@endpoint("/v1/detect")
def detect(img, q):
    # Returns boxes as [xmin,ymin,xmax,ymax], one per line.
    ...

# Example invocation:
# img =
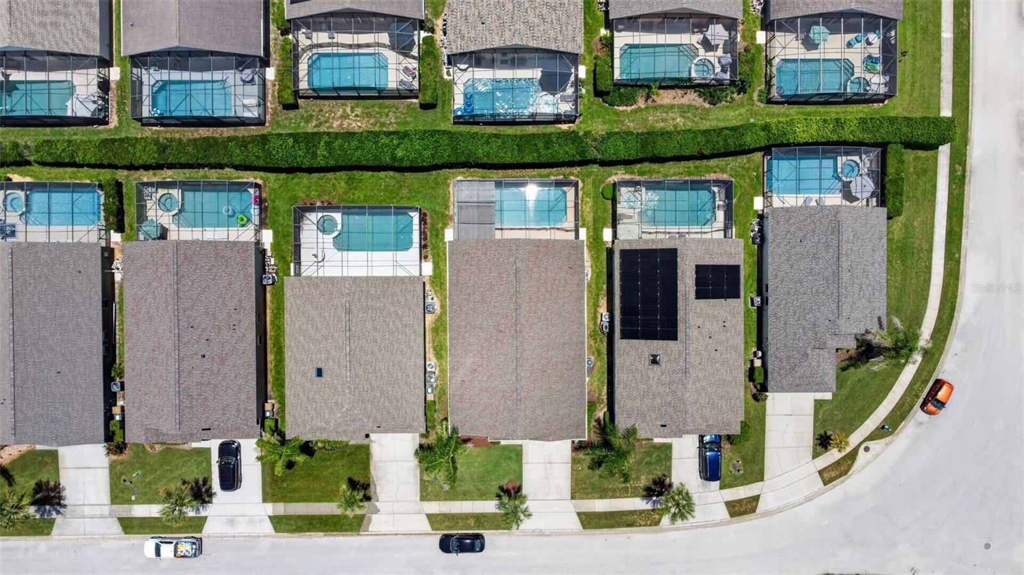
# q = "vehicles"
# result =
[142,538,201,564]
[702,437,726,480]
[439,534,485,558]
[921,377,958,416]
[215,443,241,489]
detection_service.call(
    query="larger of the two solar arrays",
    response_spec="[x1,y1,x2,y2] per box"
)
[620,249,678,342]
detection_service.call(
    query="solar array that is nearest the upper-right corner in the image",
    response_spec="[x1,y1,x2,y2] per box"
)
[696,264,741,299]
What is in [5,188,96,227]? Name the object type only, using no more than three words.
swimming pool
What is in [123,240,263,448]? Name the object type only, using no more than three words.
house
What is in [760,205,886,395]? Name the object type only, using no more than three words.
house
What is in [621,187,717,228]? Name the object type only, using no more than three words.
swimming pool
